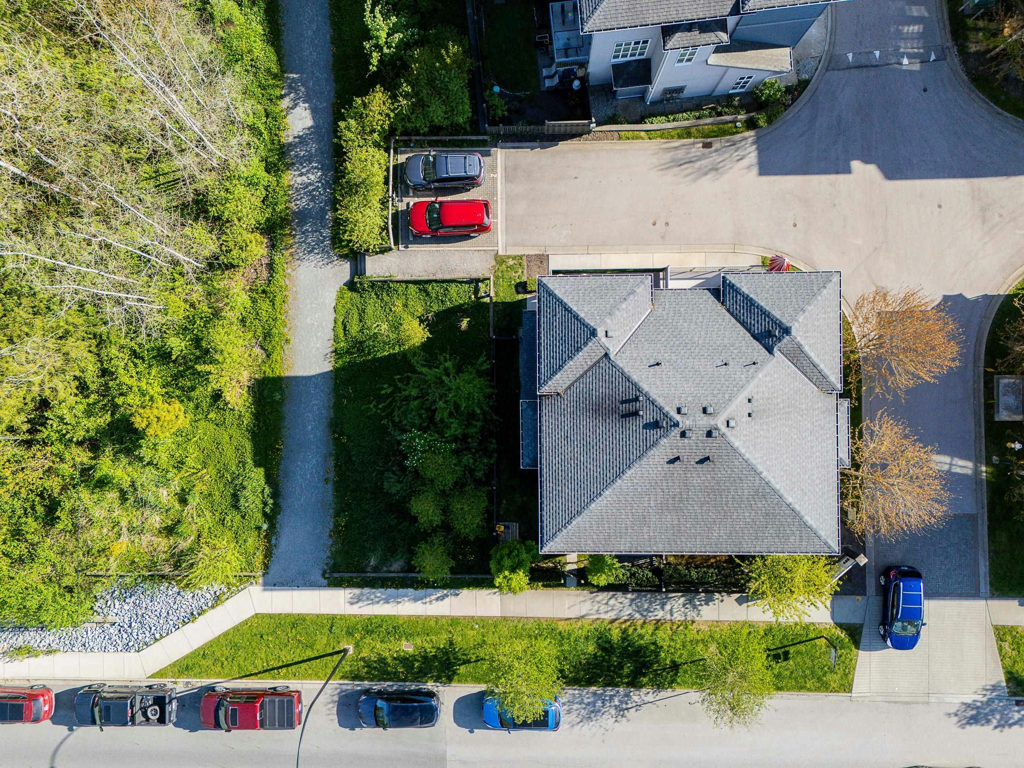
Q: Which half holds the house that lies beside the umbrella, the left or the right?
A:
right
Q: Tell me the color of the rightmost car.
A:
blue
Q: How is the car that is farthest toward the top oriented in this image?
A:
horizontally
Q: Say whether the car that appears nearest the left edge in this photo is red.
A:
Yes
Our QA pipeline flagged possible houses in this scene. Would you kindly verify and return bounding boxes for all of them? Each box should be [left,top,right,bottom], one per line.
[574,0,856,105]
[518,268,854,557]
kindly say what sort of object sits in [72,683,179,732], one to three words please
truck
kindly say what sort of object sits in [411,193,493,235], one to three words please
car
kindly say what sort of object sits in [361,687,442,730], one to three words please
car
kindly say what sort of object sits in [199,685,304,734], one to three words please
truck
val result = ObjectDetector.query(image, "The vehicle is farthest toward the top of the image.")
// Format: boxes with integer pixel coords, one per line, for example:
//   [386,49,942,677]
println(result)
[404,147,485,189]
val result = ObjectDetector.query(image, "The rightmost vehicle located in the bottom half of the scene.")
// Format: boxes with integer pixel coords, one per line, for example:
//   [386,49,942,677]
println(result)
[880,567,928,652]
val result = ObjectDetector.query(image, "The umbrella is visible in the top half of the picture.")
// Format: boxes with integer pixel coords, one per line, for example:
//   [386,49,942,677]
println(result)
[772,247,794,270]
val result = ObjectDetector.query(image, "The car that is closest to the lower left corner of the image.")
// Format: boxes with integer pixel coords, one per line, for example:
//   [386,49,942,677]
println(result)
[0,685,54,724]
